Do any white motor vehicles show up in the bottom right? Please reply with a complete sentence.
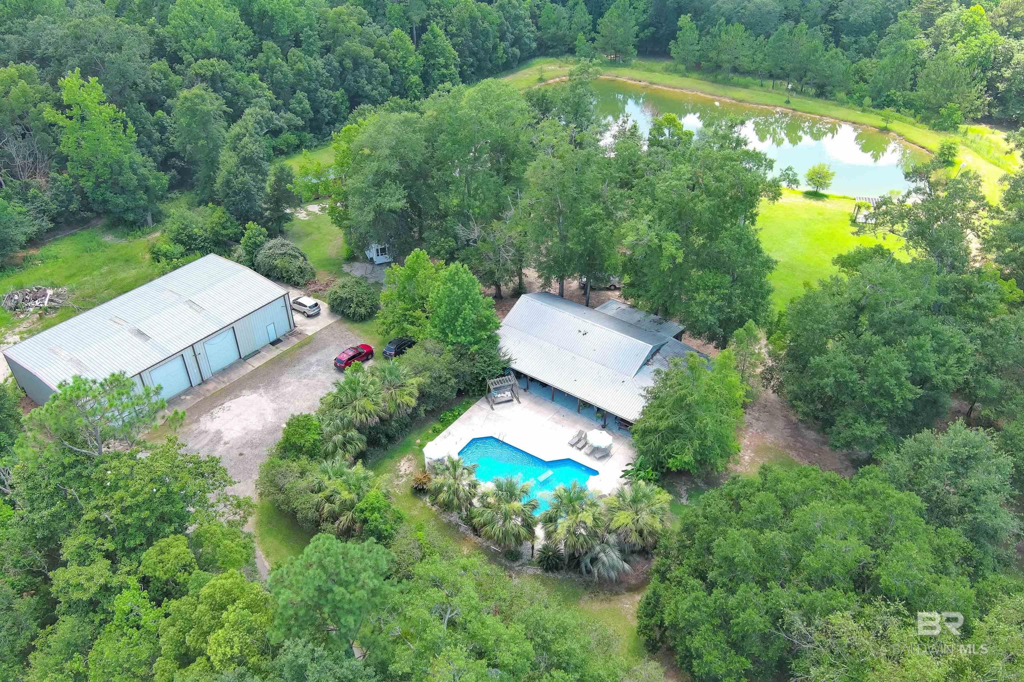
No, in the bottom right there is no white motor vehicle.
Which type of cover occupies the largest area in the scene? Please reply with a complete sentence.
Most of the picture is covered by trees.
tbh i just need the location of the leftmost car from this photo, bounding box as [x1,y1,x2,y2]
[291,296,321,318]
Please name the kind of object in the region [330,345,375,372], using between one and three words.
car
